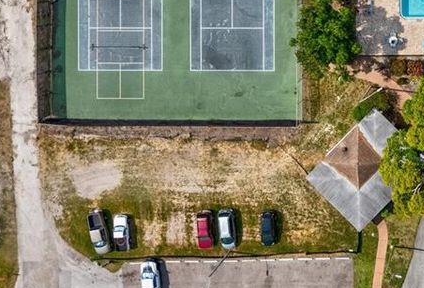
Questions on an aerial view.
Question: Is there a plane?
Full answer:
No, the picture doesn't show any plane.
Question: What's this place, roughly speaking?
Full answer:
This looks like a sports ground.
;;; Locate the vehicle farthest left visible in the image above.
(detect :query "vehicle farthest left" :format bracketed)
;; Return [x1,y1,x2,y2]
[84,210,112,254]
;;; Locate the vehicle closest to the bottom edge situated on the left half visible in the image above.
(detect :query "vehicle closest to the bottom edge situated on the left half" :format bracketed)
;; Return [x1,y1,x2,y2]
[140,260,159,288]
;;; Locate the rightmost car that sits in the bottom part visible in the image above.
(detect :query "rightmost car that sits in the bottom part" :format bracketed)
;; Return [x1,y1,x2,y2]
[260,211,278,246]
